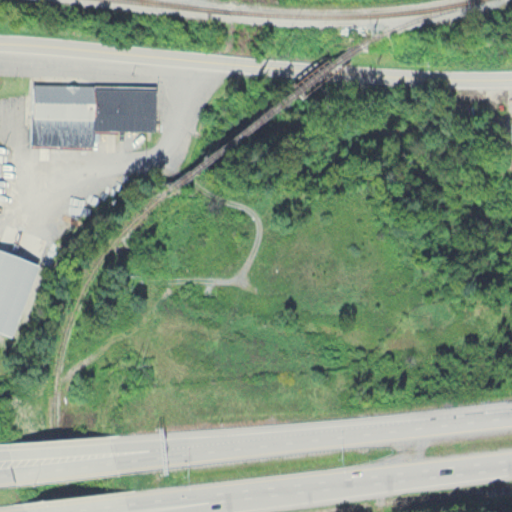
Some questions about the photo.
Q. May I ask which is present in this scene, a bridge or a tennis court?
bridge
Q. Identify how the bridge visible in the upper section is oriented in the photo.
at an angle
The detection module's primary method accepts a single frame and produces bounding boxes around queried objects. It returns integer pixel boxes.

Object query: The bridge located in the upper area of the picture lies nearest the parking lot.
[170,42,369,189]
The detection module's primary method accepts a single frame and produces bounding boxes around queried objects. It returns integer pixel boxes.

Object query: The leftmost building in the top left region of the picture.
[34,84,97,148]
